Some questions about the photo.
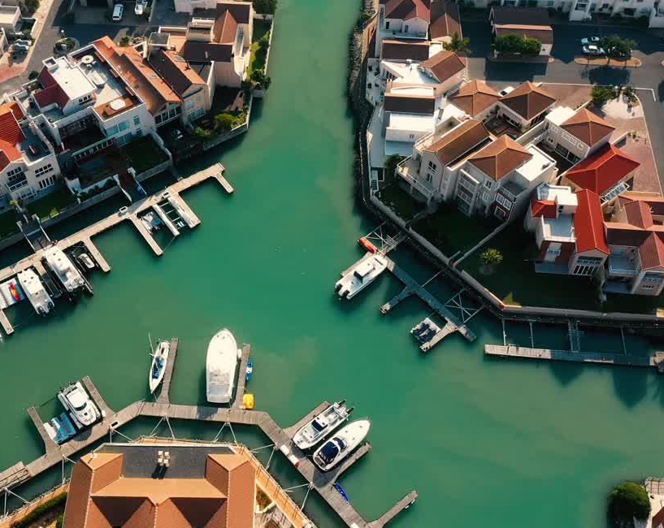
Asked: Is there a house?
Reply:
Yes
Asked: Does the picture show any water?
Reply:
Yes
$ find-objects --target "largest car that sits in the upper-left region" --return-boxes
[113,4,125,21]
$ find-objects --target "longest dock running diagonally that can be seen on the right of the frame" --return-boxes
[340,250,476,353]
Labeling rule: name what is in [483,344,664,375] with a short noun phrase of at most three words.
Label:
pier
